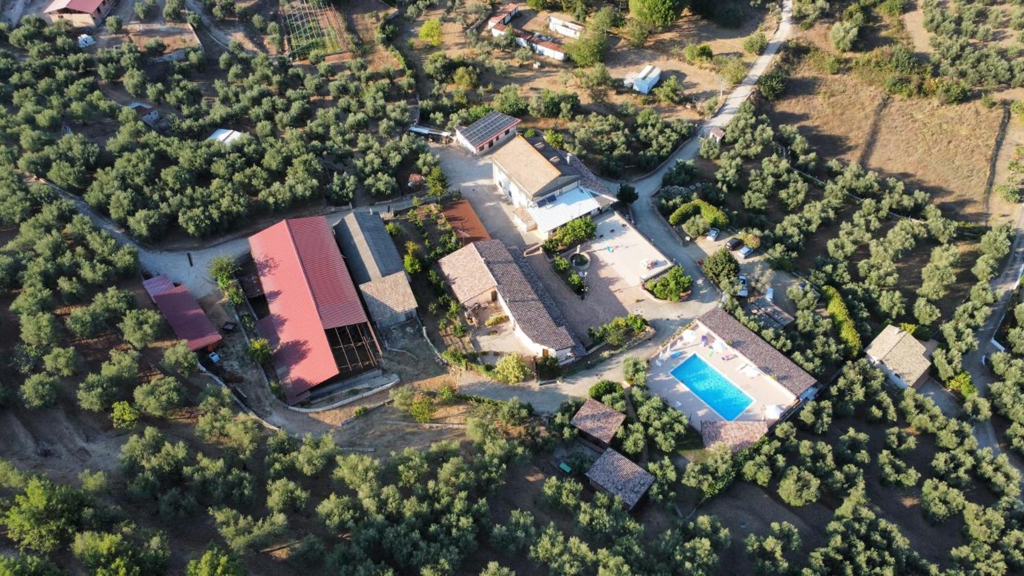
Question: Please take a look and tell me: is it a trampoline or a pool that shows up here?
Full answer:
Looking from above, you can make out a pool.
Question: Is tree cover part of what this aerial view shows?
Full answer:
Yes, the picture does contain tree cover.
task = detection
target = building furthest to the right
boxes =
[865,325,931,395]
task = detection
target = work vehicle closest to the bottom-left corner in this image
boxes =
[206,348,223,366]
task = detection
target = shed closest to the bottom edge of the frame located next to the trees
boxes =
[585,447,655,516]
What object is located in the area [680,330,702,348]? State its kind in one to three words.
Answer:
umbrella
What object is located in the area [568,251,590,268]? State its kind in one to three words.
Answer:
fountain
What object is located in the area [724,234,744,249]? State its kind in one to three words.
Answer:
car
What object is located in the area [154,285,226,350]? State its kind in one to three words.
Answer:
shed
